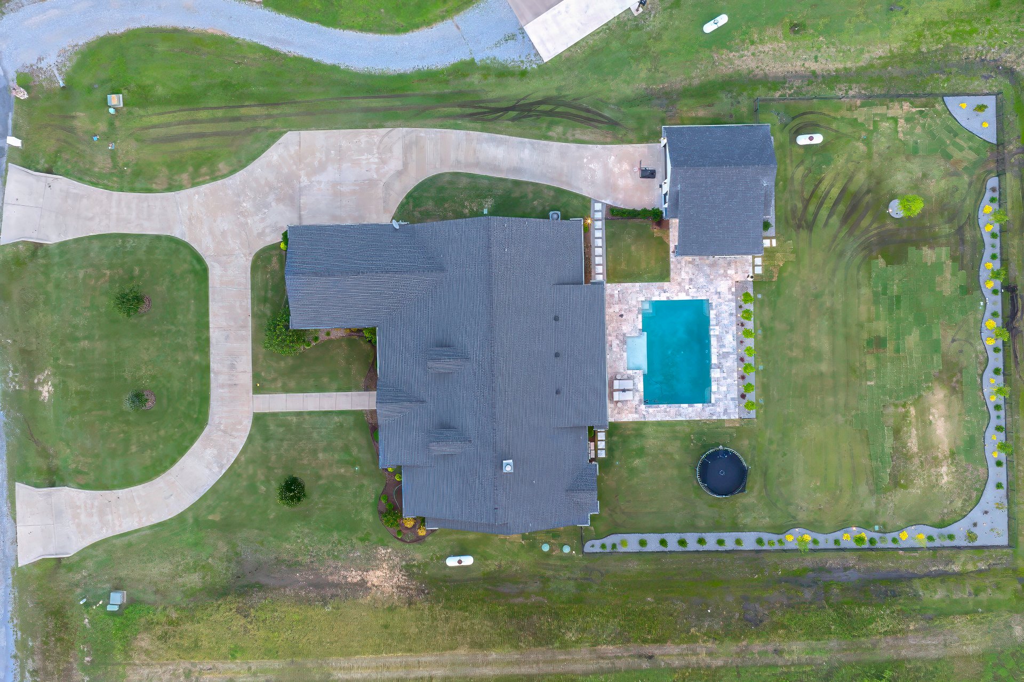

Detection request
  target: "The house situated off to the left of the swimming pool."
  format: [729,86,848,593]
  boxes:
[285,216,609,535]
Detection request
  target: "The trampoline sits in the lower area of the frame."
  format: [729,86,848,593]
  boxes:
[696,445,751,497]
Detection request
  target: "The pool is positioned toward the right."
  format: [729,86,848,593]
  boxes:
[627,299,710,405]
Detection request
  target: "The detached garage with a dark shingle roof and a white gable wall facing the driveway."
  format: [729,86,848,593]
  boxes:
[662,123,779,256]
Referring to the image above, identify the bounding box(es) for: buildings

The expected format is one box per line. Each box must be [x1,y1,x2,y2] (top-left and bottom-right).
[662,123,779,256]
[285,216,609,535]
